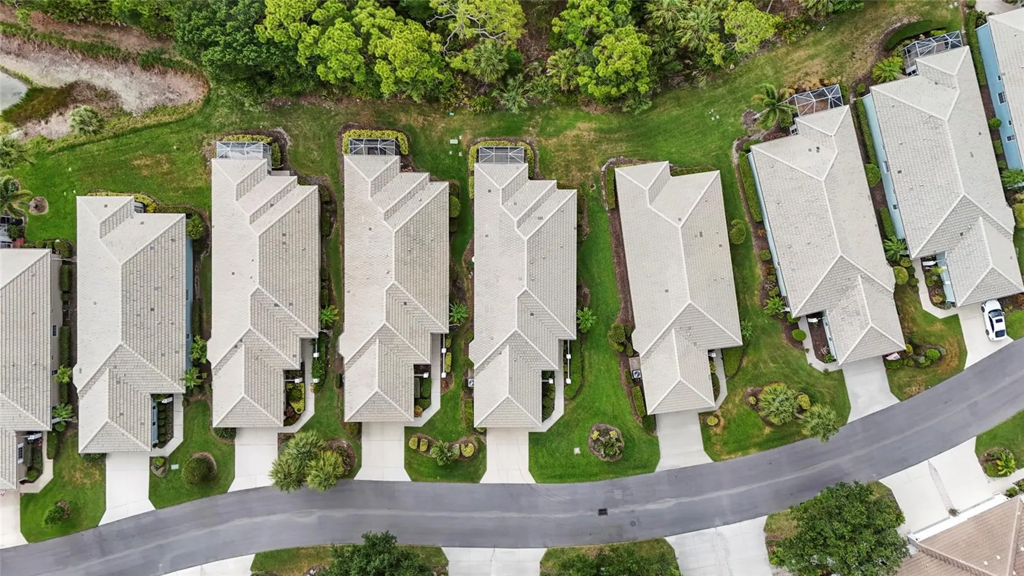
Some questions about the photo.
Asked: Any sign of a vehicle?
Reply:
Yes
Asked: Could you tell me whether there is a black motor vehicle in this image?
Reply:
No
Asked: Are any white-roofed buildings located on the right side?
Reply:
Yes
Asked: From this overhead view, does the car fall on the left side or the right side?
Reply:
right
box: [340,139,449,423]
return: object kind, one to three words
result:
house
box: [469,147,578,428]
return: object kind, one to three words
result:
house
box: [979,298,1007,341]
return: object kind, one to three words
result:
car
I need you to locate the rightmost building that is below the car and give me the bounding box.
[885,494,1024,576]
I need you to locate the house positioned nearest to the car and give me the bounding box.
[863,31,1024,306]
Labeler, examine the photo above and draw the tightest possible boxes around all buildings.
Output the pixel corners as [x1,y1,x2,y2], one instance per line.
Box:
[469,147,578,428]
[0,215,63,490]
[747,84,905,366]
[976,8,1024,206]
[73,196,193,453]
[208,141,322,428]
[863,31,1024,306]
[885,494,1024,576]
[340,139,449,423]
[615,160,743,415]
